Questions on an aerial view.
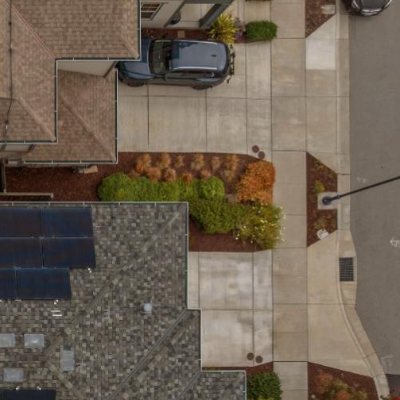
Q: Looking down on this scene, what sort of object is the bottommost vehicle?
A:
automobile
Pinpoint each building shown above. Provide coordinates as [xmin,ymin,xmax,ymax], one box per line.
[0,201,247,400]
[0,0,228,166]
